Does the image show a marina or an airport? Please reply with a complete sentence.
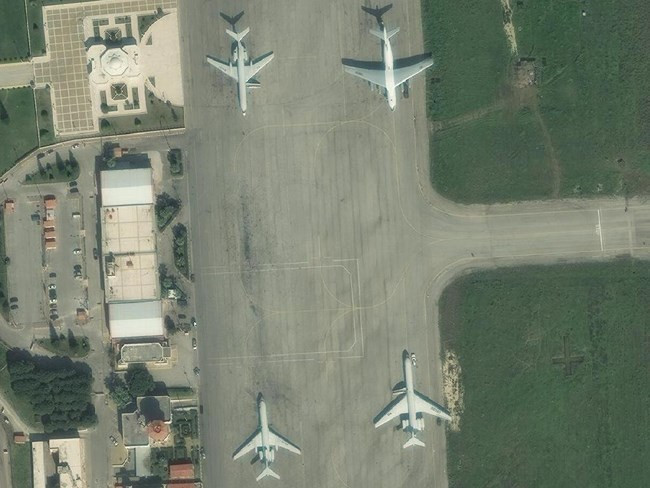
This looks like an airport.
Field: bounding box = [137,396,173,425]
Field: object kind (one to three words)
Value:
building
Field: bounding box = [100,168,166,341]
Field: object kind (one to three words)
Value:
building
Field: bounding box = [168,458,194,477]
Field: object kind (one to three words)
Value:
house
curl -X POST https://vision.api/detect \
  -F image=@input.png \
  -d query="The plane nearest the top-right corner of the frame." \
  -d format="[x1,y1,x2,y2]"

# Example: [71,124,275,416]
[345,26,432,110]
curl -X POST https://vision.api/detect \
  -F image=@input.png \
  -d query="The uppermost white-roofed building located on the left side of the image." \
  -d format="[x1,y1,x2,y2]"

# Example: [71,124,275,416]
[88,44,143,86]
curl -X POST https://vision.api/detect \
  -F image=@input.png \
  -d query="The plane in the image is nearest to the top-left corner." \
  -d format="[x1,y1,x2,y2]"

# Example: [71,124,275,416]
[208,30,273,115]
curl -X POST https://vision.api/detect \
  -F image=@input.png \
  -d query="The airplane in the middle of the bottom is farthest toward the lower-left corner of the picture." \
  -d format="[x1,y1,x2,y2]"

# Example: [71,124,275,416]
[234,399,300,480]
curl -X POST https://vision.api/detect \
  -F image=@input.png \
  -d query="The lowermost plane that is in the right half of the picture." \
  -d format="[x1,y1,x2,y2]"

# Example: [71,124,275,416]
[376,357,451,447]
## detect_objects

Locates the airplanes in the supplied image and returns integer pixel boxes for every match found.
[234,399,300,480]
[208,30,273,115]
[376,357,451,447]
[345,26,432,110]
